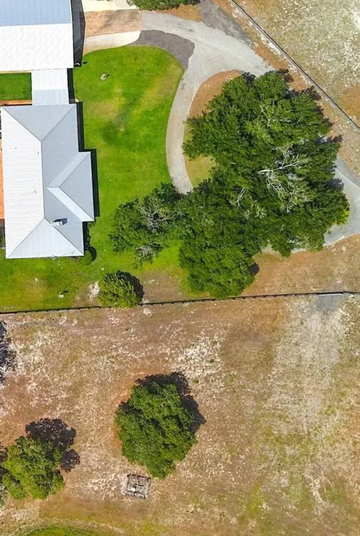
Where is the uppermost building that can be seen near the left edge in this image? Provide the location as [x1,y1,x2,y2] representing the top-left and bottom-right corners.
[0,0,74,70]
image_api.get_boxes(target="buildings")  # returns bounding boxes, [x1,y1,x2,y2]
[0,0,74,70]
[0,103,94,259]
